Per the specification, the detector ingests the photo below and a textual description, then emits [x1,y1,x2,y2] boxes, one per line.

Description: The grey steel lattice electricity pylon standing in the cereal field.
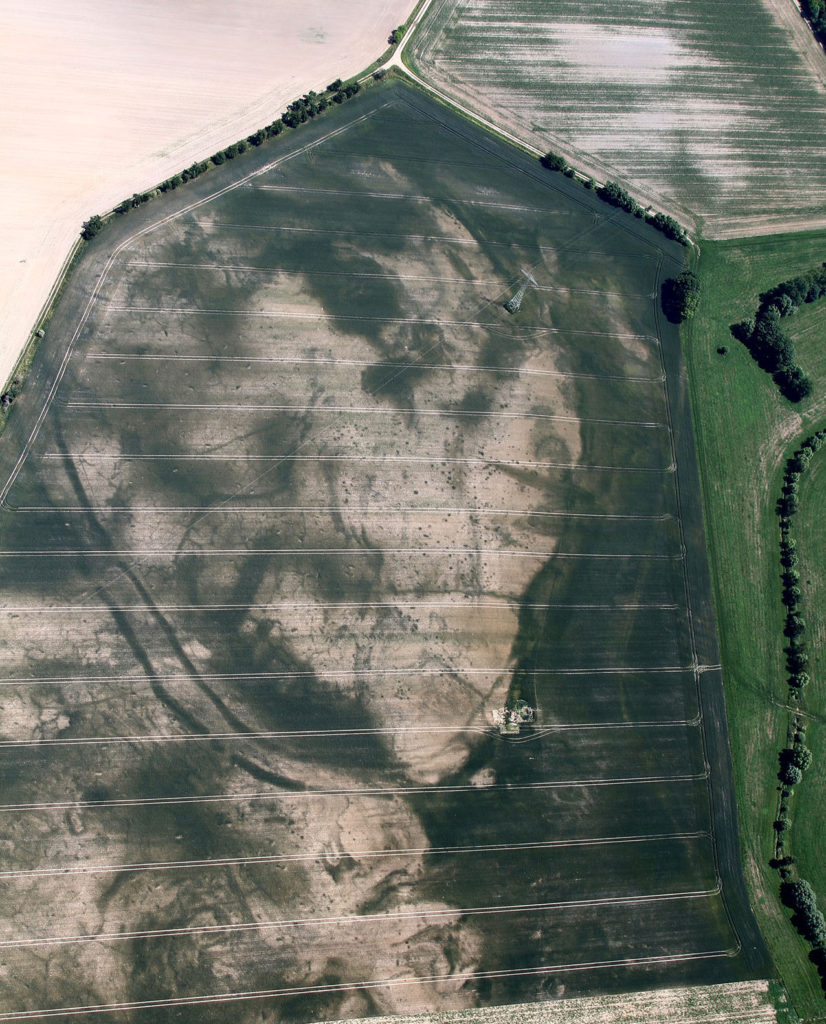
[503,268,538,315]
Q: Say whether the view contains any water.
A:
No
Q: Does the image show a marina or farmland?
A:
farmland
